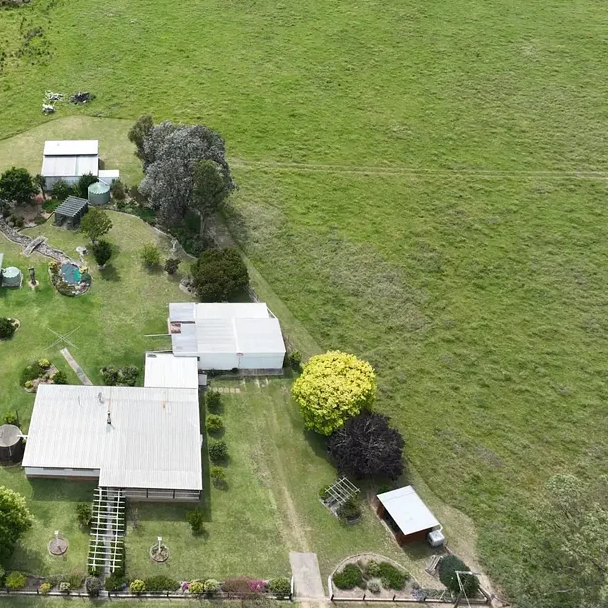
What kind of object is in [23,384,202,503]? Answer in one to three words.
house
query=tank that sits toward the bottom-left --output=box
[0,422,29,465]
